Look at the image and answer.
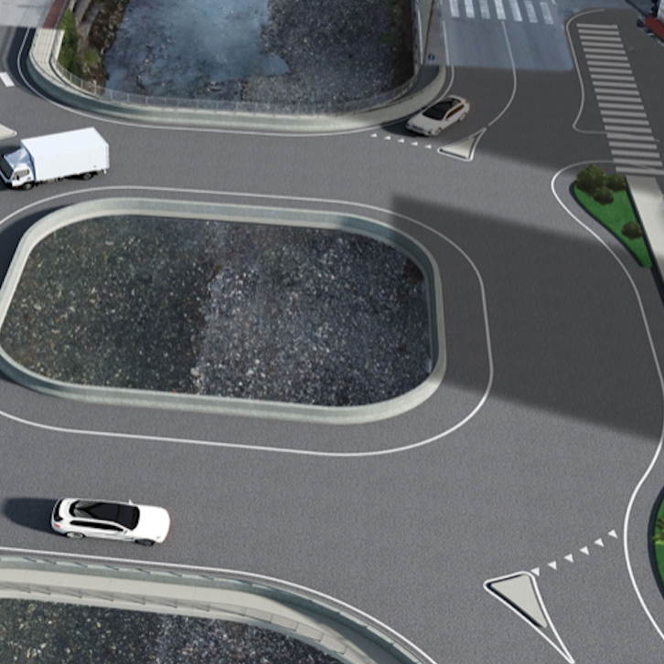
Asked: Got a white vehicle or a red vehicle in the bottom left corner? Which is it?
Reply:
white vehicle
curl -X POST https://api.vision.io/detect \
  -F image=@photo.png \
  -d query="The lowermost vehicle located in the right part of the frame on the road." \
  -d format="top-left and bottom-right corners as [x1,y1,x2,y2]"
[414,95,470,135]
